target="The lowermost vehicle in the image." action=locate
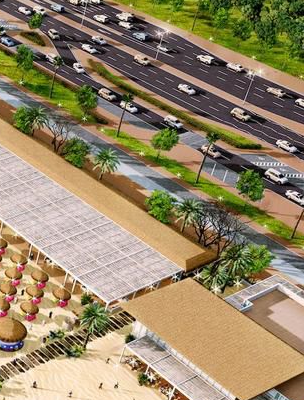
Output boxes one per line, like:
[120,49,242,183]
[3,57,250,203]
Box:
[281,188,304,204]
